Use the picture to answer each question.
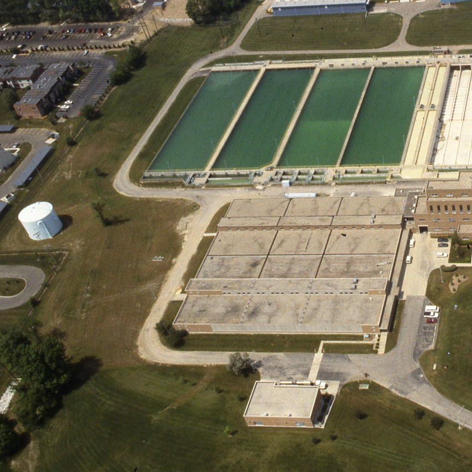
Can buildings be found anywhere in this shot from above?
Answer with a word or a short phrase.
Yes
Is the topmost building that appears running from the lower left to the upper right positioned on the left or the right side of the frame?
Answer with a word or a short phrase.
left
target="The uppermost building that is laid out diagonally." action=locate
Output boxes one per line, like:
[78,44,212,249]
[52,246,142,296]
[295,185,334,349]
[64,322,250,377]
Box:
[15,59,82,118]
